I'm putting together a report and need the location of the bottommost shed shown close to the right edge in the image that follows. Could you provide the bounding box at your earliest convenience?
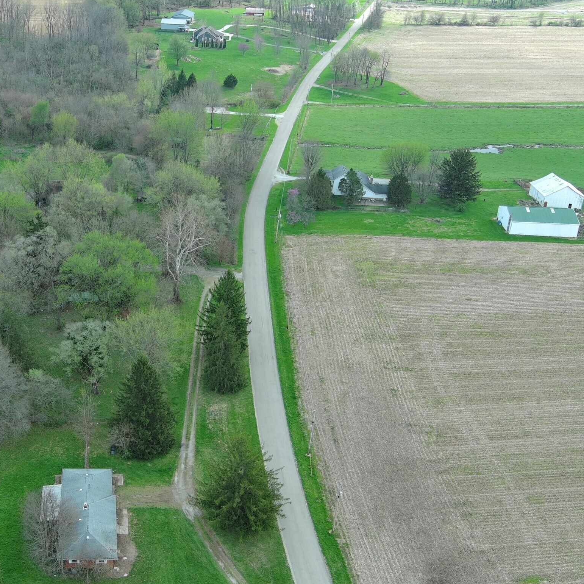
[498,206,582,237]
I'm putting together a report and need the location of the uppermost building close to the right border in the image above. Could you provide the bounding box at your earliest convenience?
[532,172,584,208]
